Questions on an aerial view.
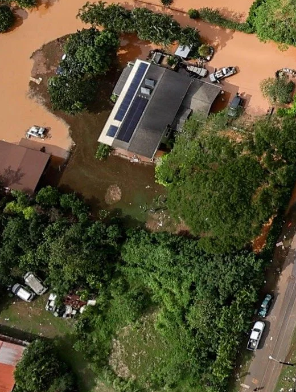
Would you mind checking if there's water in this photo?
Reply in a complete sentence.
Yes, there is water in the image.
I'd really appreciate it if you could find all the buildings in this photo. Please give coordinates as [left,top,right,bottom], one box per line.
[98,59,223,164]
[0,141,56,196]
[0,341,27,392]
